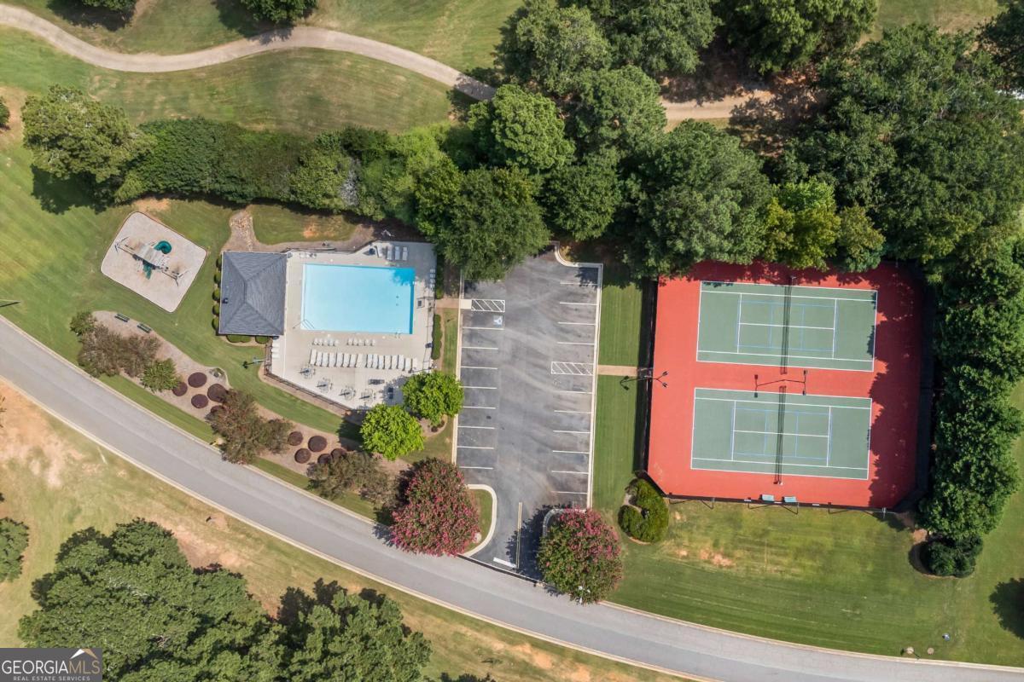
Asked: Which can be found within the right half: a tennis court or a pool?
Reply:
tennis court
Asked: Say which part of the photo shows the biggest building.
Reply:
left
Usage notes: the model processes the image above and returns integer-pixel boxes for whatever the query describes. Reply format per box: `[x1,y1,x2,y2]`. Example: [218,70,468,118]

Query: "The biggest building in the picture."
[218,250,294,336]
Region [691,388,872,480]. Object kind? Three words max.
tennis court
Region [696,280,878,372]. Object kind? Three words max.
tennis court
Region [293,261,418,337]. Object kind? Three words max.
swimming pool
